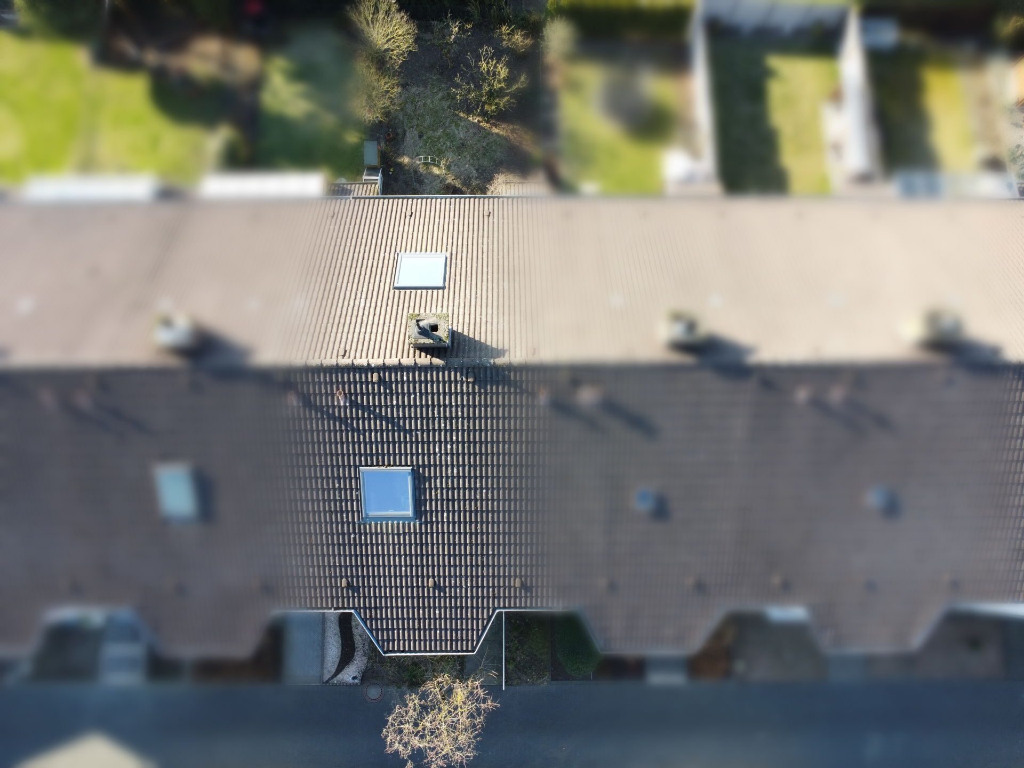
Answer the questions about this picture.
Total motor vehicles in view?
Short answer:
zero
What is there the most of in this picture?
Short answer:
buildings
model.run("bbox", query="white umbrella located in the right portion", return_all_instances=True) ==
[658,143,702,193]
